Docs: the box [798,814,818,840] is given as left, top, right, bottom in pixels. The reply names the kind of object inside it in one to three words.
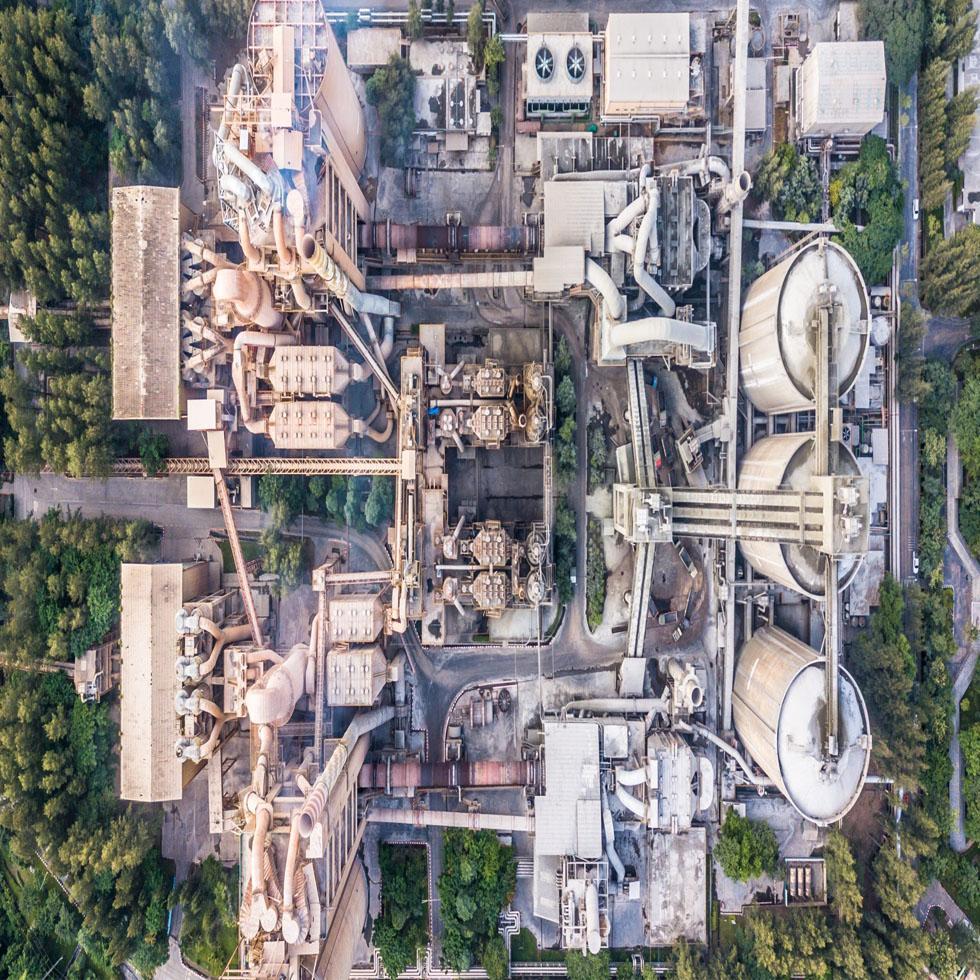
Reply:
shed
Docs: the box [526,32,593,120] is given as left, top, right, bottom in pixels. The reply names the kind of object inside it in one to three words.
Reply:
cooling tower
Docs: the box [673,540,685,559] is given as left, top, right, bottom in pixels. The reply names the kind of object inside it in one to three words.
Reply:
vehicle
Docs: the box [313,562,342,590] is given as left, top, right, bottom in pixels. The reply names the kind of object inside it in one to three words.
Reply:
house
